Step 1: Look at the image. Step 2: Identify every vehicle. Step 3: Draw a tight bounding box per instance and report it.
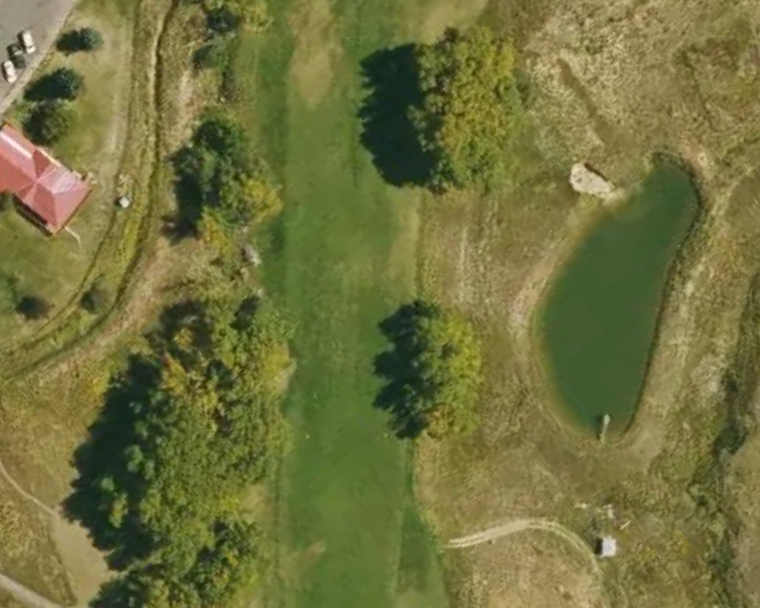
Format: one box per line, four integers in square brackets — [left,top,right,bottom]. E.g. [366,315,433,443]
[1,60,15,83]
[9,41,24,67]
[20,29,34,54]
